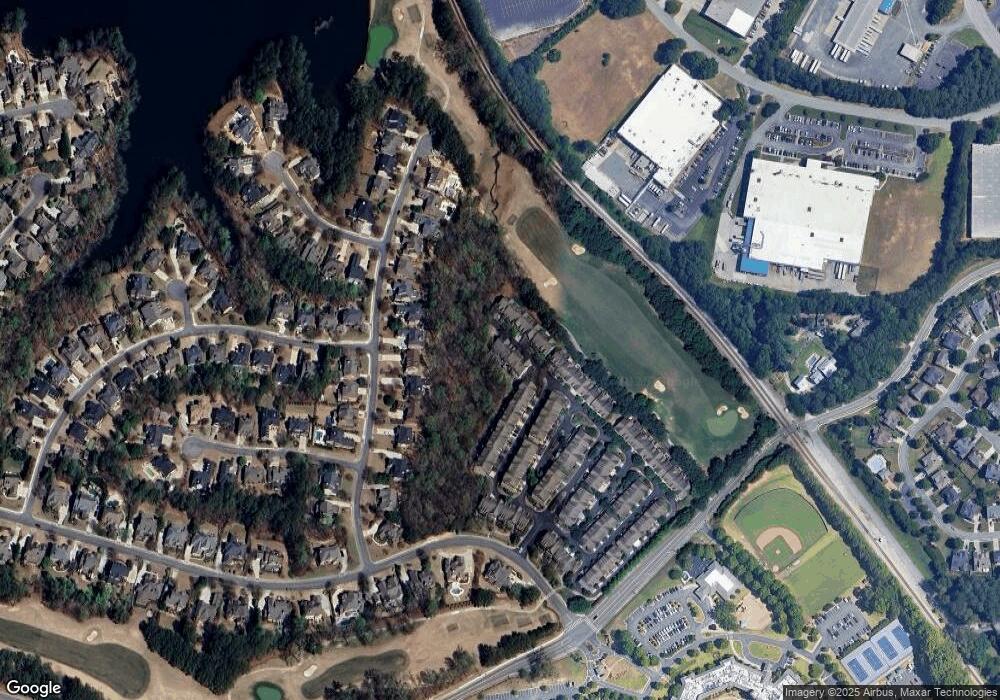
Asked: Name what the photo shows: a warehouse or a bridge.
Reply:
warehouse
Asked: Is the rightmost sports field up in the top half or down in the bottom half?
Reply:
bottom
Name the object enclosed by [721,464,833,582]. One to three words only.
baseball field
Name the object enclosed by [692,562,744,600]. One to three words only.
building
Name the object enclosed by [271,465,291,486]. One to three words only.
house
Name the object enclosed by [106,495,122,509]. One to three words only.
swimming pool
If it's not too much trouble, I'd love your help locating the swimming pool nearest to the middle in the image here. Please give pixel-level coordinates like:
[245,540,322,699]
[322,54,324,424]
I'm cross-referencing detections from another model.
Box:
[313,428,326,444]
